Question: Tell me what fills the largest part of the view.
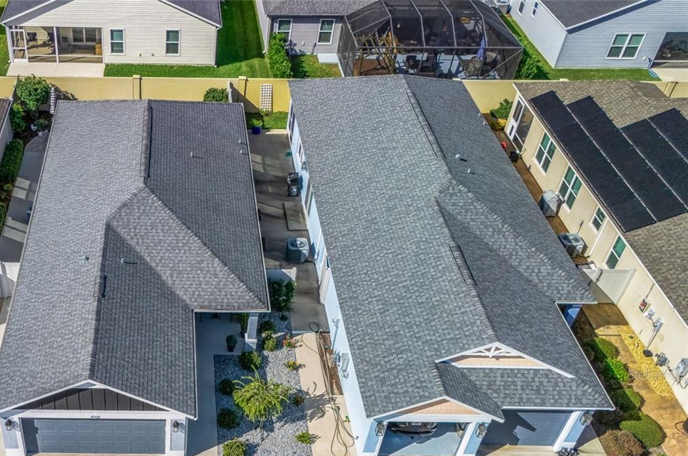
buildings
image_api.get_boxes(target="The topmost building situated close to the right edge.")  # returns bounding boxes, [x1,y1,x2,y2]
[519,0,688,70]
